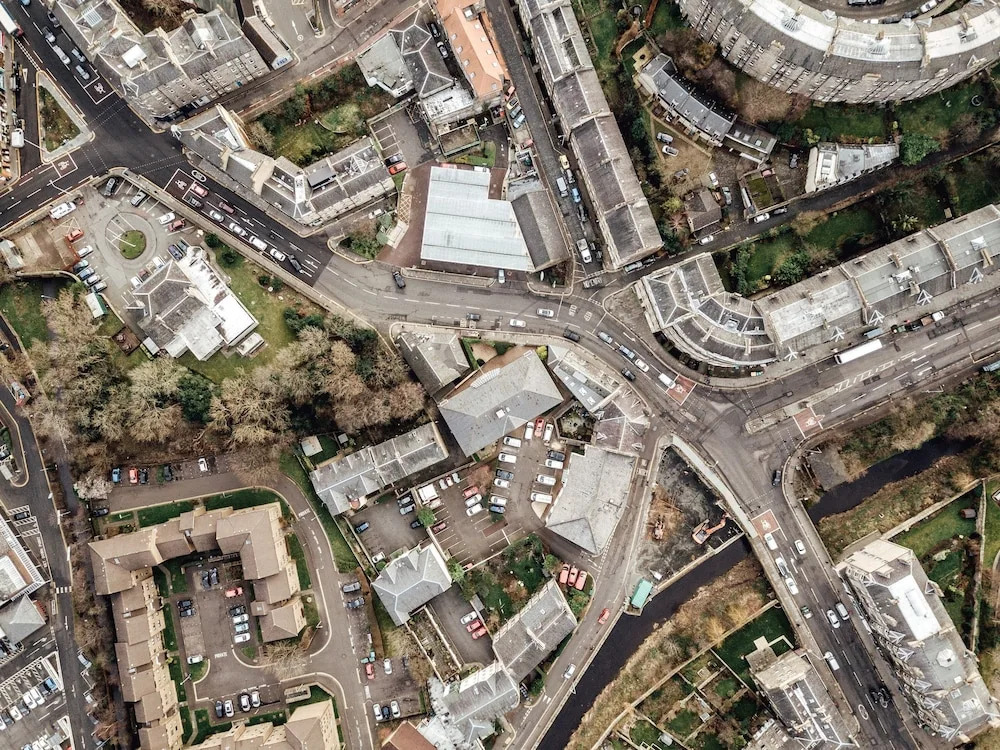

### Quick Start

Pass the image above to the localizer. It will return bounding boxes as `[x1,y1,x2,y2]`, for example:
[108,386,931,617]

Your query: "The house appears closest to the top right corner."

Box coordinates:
[800,141,899,196]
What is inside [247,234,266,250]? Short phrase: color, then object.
white vehicle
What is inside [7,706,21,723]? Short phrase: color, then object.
white car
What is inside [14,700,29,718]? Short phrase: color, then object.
gray car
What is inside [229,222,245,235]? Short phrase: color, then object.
white vehicle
